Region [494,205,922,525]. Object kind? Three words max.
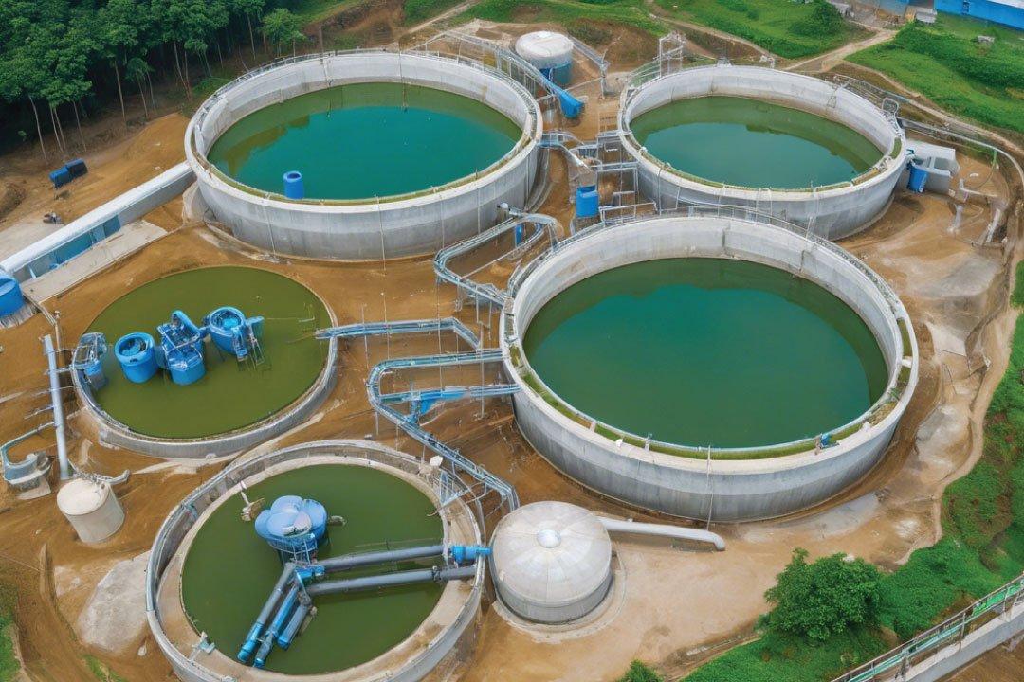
storage tank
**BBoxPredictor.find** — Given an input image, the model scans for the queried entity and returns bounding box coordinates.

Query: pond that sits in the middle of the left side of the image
[69,272,342,461]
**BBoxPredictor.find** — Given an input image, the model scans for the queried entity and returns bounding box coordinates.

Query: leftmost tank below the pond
[57,475,131,552]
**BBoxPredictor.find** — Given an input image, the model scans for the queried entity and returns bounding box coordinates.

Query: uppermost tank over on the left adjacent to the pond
[183,39,538,265]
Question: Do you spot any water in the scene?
Yes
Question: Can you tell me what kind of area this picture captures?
industrial area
